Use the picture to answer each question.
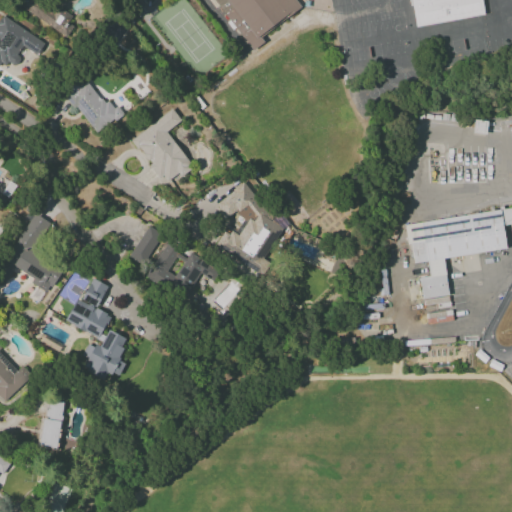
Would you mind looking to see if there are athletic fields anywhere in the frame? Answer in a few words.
Yes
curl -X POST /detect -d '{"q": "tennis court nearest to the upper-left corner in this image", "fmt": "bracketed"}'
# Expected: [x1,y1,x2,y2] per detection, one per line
[154,0,226,72]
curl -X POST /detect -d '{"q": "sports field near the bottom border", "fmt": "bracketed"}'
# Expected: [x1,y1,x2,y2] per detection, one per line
[134,380,512,512]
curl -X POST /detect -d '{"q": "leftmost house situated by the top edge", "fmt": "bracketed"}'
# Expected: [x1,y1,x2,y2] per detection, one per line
[0,16,48,66]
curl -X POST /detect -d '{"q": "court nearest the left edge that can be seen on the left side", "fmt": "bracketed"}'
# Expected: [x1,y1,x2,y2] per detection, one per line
[60,276,90,304]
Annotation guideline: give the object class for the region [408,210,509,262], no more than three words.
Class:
building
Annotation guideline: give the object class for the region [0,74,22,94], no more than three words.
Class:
swimming pool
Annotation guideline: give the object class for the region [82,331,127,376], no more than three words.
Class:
house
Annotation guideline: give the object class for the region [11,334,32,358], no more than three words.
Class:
swimming pool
